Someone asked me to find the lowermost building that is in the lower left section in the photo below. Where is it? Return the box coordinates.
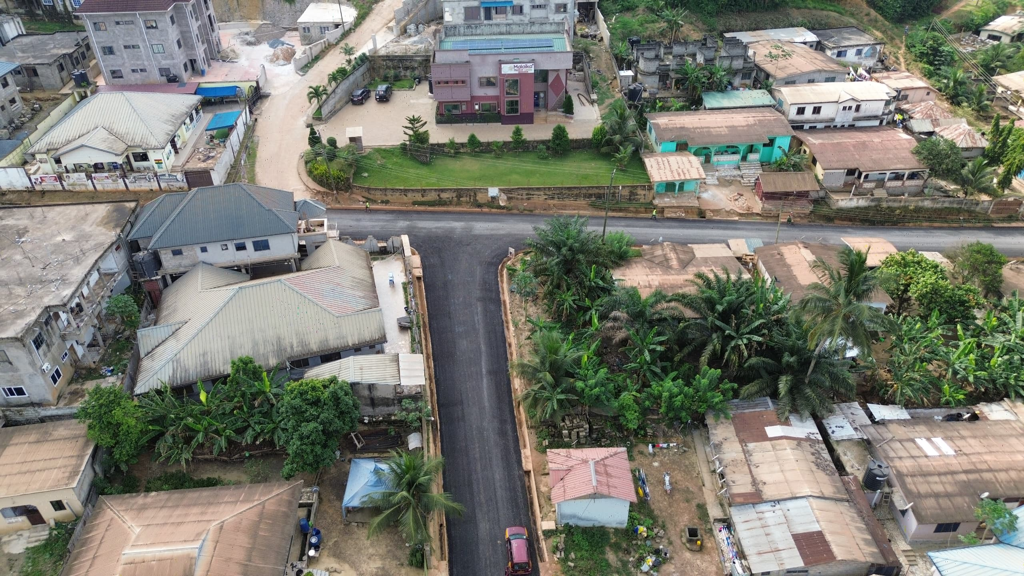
[61,479,303,576]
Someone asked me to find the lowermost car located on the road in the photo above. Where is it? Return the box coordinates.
[503,525,531,576]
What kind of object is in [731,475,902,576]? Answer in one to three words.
house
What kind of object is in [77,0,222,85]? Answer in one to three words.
building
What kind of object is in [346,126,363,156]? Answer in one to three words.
shed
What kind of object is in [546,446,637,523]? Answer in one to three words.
house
